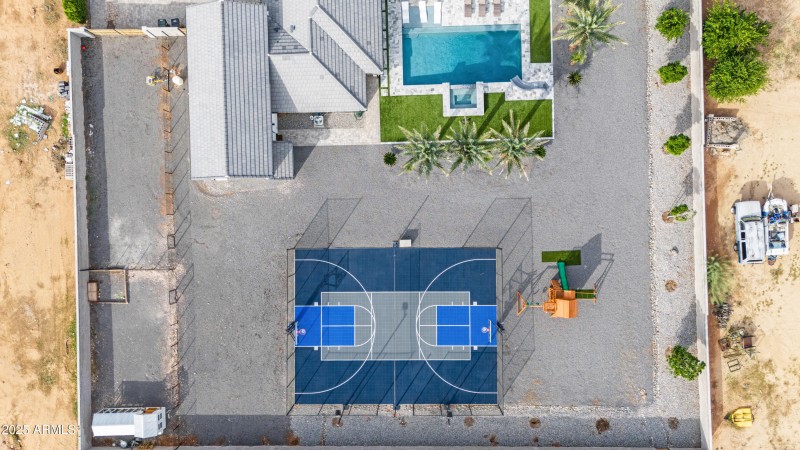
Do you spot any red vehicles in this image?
No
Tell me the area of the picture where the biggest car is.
right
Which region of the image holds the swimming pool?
top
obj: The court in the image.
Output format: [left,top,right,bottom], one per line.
[288,247,504,406]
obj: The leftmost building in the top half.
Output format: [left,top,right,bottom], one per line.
[185,0,296,180]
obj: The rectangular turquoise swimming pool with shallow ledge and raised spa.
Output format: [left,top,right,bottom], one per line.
[402,6,521,116]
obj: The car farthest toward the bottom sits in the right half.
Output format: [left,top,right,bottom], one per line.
[733,201,769,264]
